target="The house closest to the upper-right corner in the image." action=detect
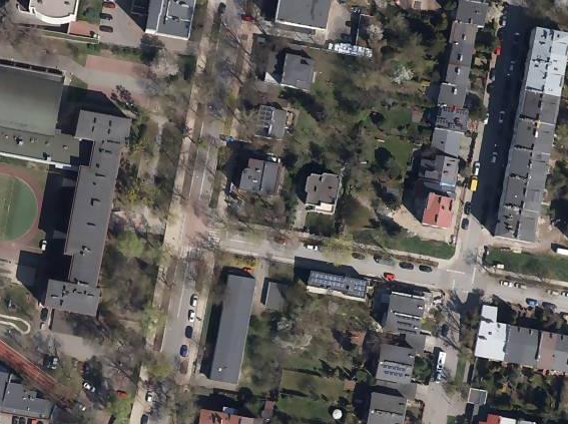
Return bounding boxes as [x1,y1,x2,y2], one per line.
[527,28,568,67]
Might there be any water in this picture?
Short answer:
No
